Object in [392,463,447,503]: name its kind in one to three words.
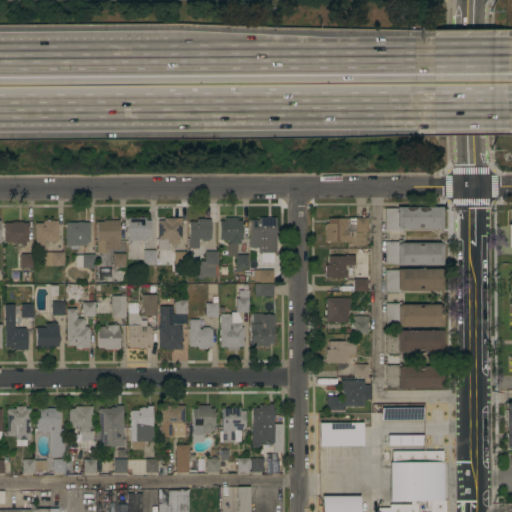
building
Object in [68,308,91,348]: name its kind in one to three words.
house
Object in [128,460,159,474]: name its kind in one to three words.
building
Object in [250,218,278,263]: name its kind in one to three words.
house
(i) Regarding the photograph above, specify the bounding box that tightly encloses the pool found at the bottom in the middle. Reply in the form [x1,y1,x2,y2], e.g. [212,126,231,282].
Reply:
[194,437,214,453]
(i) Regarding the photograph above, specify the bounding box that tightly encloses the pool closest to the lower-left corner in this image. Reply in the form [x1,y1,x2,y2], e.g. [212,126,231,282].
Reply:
[38,435,50,456]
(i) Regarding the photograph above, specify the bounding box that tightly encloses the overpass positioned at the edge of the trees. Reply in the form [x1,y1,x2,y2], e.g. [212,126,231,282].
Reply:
[436,30,510,135]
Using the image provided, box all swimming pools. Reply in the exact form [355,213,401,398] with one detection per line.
[36,288,48,311]
[38,435,50,456]
[194,437,214,453]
